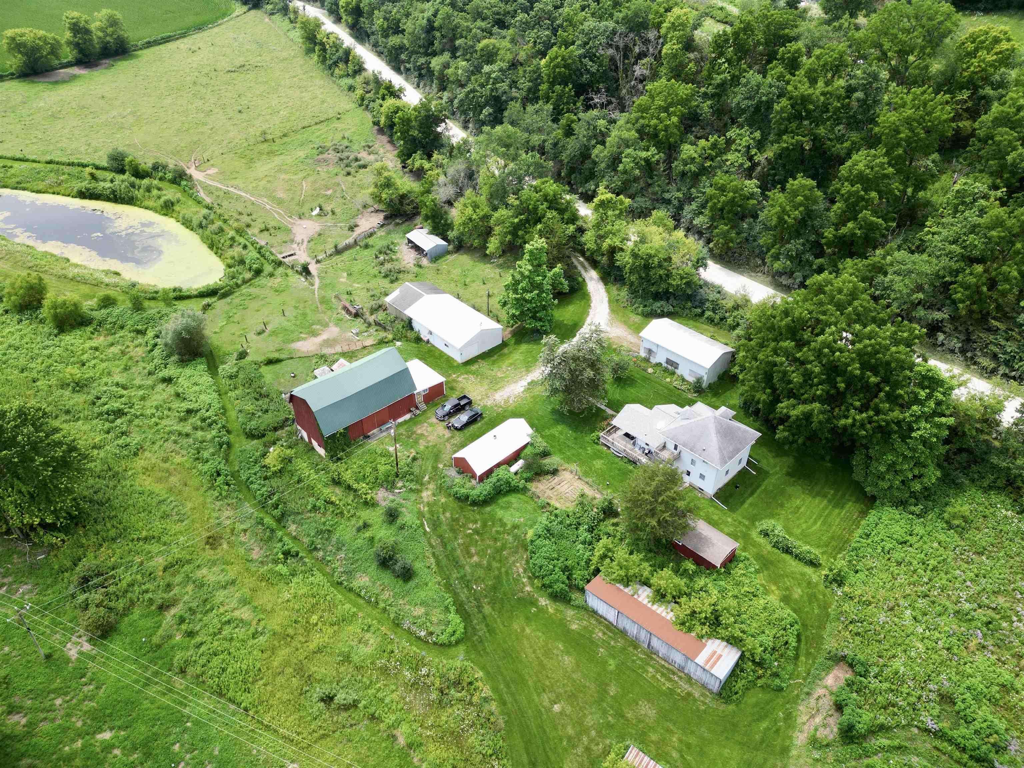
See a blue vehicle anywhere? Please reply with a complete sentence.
No, there isn't any blue vehicle down there.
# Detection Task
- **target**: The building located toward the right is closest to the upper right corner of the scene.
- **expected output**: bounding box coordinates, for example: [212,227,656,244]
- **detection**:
[639,318,735,386]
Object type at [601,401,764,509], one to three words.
house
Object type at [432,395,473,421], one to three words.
truck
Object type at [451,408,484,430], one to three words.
car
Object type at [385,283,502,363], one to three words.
shed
